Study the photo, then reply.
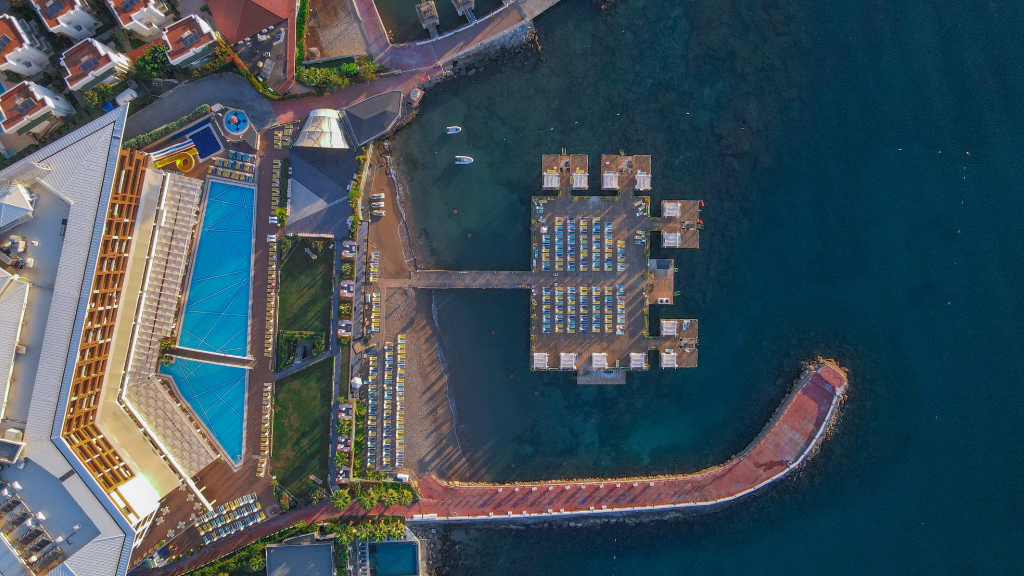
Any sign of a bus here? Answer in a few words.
No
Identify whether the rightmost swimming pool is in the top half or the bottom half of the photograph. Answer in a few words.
bottom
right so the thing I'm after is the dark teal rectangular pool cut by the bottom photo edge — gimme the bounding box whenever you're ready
[374,541,419,576]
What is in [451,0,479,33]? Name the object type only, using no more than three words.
pier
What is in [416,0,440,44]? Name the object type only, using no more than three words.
pier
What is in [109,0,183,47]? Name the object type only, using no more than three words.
house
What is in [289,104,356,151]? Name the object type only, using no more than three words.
tent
